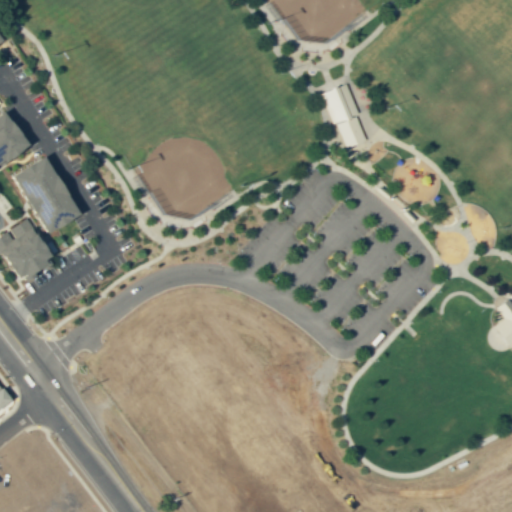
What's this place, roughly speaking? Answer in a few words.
sports ground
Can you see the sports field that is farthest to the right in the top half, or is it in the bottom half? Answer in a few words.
top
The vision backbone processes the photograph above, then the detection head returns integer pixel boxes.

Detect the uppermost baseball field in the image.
[270,0,381,42]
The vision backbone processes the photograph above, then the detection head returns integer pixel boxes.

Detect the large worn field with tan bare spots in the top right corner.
[349,0,512,255]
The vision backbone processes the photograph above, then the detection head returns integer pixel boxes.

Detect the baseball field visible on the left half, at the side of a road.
[18,0,328,218]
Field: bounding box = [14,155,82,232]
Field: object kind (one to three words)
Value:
building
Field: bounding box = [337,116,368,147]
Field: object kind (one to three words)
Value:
building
